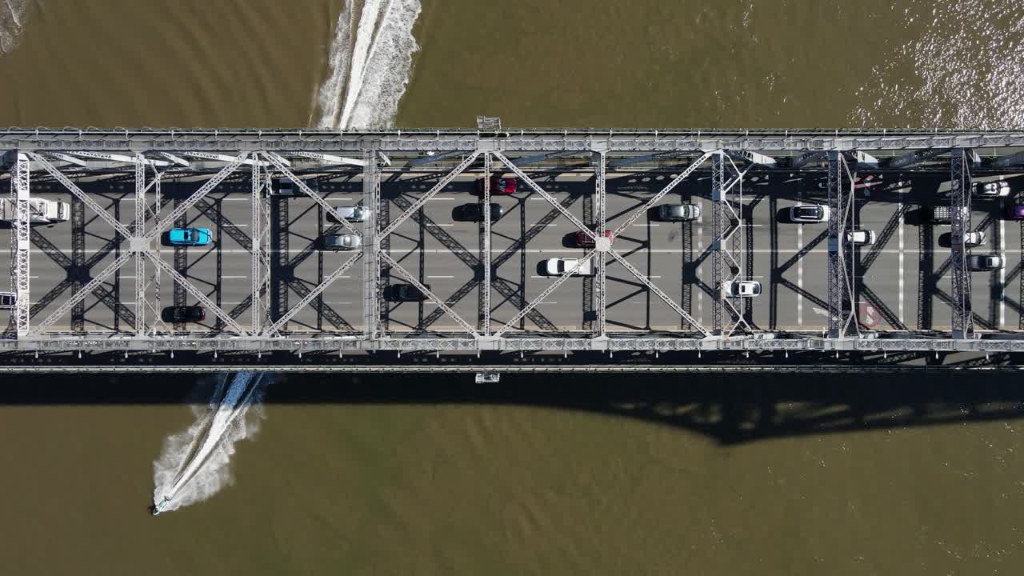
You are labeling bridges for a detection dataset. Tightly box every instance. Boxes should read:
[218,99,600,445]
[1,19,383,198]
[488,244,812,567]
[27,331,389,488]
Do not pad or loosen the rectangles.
[0,123,1024,374]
